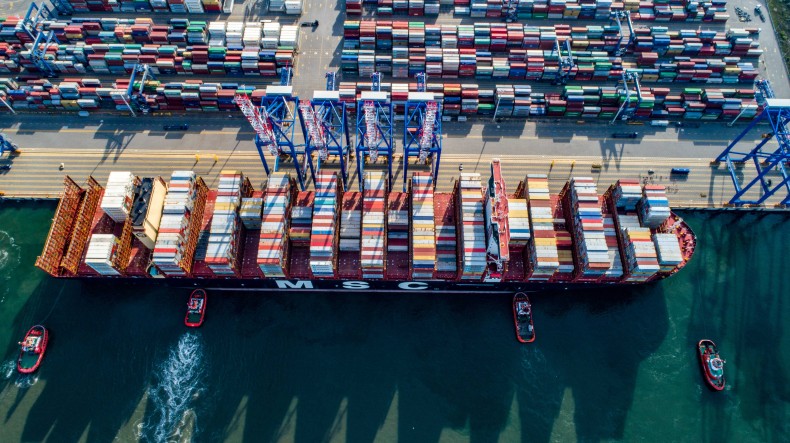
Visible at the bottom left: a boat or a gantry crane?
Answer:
boat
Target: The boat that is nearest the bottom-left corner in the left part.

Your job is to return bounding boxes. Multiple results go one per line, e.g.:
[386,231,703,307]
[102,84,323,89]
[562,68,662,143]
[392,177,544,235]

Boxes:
[17,324,46,374]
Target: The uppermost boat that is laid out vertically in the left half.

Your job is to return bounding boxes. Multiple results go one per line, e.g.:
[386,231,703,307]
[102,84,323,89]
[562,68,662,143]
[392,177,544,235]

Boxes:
[184,289,204,329]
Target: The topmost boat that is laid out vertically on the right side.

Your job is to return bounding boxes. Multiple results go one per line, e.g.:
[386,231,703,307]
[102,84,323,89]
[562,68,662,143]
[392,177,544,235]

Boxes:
[513,293,535,343]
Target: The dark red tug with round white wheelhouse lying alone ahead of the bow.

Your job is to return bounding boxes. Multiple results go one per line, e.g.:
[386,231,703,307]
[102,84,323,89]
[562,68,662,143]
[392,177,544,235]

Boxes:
[694,340,725,391]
